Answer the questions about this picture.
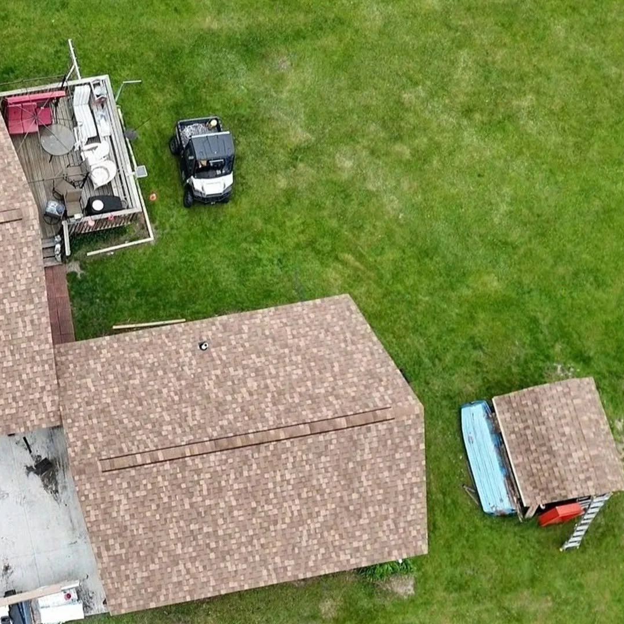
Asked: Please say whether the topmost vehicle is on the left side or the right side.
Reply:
left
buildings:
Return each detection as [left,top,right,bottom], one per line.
[481,377,624,522]
[54,293,428,616]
